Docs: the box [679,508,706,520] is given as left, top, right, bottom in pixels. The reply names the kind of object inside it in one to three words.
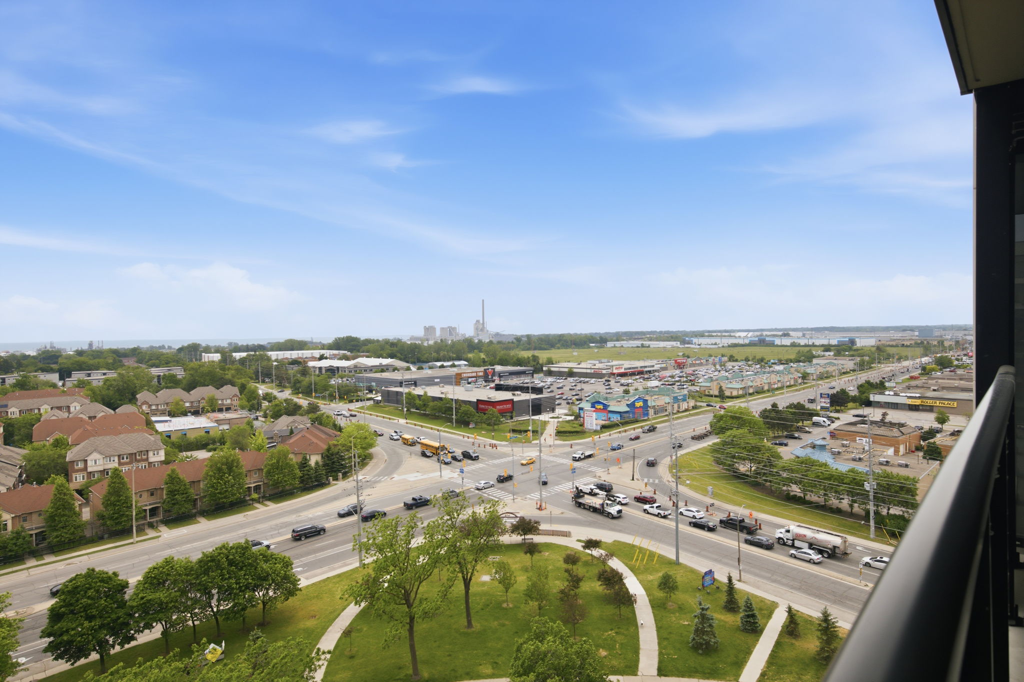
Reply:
vehicle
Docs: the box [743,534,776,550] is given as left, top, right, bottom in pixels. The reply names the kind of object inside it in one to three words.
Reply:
car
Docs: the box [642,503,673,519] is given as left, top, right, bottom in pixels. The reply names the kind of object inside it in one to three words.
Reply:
vehicle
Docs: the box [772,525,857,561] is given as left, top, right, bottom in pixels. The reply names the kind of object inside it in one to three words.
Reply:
truck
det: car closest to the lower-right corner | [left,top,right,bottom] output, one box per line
[858,555,889,568]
